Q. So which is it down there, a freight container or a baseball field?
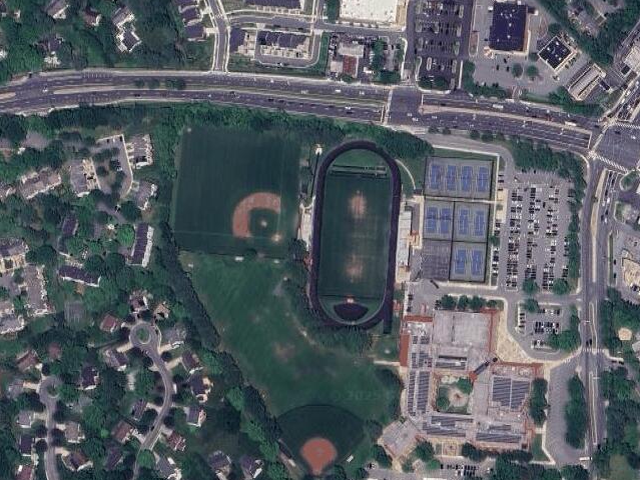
baseball field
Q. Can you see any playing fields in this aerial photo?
Yes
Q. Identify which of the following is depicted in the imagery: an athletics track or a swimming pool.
athletics track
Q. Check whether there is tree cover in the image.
Yes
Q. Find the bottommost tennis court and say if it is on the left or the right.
left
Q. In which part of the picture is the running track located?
center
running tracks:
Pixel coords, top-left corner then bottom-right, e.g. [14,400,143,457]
[309,139,401,331]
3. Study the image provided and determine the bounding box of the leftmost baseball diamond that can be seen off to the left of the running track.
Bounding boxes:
[175,128,303,258]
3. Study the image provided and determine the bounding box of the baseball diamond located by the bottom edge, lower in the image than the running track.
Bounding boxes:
[281,405,364,475]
